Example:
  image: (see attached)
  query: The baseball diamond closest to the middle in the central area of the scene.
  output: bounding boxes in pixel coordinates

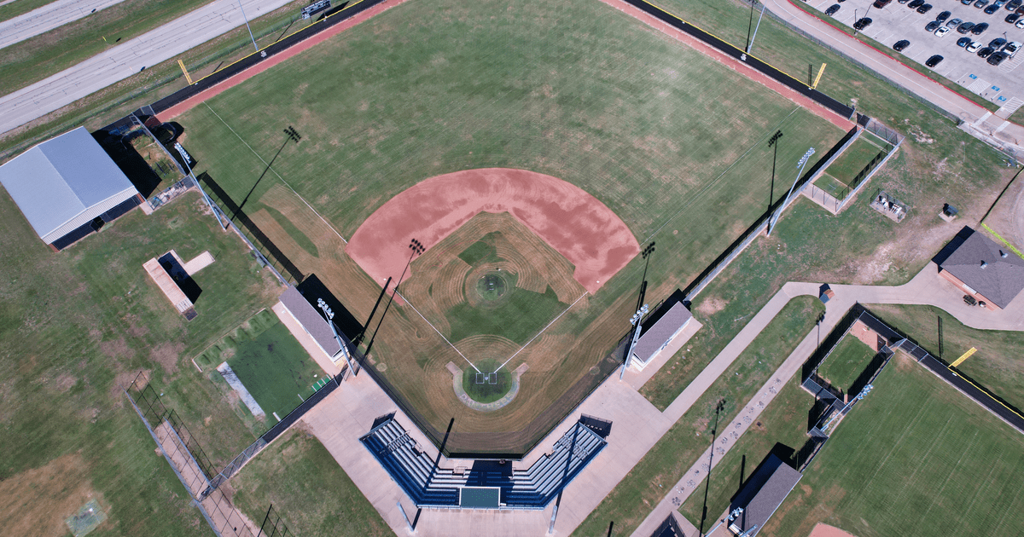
[143,0,852,456]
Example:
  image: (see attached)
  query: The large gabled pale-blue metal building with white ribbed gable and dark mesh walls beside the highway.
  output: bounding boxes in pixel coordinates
[0,122,145,252]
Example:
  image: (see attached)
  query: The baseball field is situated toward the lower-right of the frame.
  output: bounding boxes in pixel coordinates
[756,353,1024,537]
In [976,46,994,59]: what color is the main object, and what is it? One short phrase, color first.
black vehicle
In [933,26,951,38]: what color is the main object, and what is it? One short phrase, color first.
white vehicle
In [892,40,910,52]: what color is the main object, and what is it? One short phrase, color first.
black vehicle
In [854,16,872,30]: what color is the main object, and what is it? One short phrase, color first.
black car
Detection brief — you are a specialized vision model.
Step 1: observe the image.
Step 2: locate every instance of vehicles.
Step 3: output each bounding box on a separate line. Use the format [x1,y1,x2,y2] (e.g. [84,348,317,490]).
[960,0,975,7]
[925,53,944,68]
[1014,5,1024,16]
[892,40,910,52]
[957,20,975,35]
[987,51,1009,66]
[933,26,951,38]
[976,46,994,59]
[907,0,925,10]
[989,35,1007,50]
[924,20,941,32]
[874,0,891,9]
[946,17,963,29]
[955,36,973,49]
[854,16,872,30]
[1002,40,1022,56]
[993,0,1011,9]
[983,4,1000,15]
[971,23,989,35]
[916,3,933,14]
[896,0,910,5]
[825,4,841,16]
[1006,0,1023,11]
[974,0,991,10]
[1013,18,1024,30]
[1003,13,1021,25]
[965,41,983,54]
[935,11,952,23]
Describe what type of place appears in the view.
sports ground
